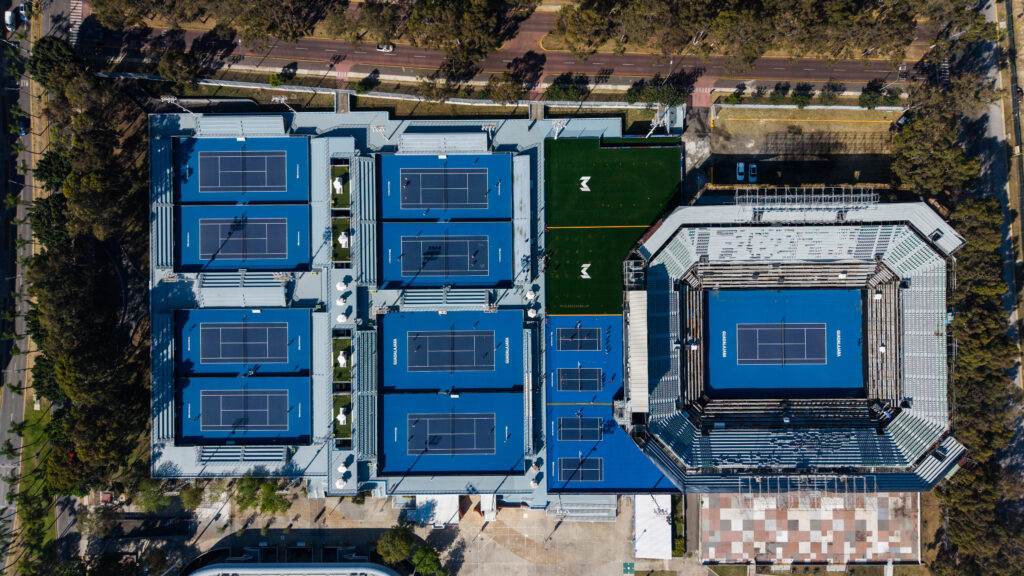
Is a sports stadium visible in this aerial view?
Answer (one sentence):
Yes, there's a sports stadium here.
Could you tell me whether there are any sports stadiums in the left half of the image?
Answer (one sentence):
No, no sports stadium can be made out in the left half of the image.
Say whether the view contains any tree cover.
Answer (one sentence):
Yes, tree cover shows up in the scene.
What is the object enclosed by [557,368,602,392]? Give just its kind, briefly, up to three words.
sports court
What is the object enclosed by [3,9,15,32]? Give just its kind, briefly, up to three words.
vehicle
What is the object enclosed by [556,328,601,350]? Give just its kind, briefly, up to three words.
sports court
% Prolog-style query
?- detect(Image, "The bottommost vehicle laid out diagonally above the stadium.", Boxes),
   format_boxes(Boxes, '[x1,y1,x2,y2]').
[894,113,909,130]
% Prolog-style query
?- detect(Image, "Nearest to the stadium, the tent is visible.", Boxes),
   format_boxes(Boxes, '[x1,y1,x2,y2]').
[634,493,671,559]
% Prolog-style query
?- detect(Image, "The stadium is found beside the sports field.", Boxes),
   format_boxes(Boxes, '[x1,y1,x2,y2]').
[611,188,970,509]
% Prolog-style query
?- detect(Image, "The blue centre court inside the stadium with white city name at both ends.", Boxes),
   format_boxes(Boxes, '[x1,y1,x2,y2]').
[704,287,862,400]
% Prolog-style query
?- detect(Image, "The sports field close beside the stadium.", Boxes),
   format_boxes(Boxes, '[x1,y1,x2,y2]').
[546,137,684,315]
